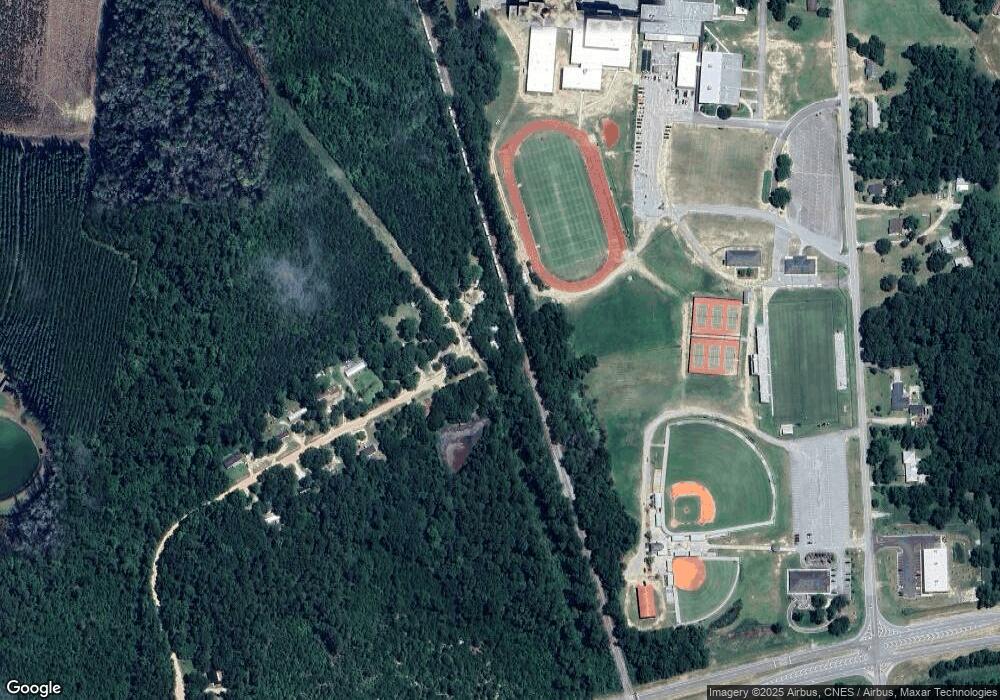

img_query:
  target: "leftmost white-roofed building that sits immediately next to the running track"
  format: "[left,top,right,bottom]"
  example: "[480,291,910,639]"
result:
[526,27,557,94]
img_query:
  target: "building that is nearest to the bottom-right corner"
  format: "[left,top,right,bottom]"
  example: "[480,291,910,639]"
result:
[924,549,947,593]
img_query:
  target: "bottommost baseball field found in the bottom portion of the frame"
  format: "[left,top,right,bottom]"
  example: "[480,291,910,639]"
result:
[674,556,740,625]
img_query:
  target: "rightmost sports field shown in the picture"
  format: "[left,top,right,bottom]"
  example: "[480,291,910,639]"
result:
[768,289,858,437]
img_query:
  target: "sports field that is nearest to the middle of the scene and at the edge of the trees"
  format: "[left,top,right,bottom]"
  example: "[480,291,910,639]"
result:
[515,131,608,281]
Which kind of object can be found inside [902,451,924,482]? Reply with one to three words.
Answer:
house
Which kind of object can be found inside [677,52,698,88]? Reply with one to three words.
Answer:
building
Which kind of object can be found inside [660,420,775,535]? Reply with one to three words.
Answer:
baseball field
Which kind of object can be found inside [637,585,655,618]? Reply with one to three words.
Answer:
barn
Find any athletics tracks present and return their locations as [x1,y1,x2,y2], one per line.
[498,119,628,293]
